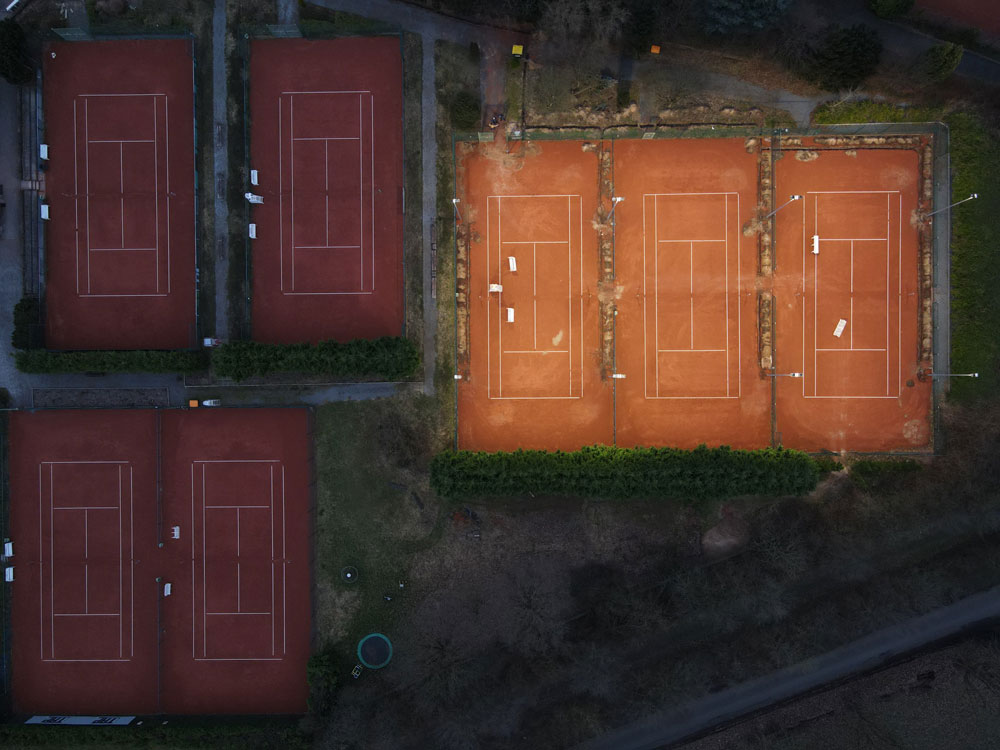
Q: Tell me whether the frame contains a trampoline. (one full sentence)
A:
Yes, a trampoline can be made out from above.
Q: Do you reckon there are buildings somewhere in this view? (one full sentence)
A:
No, no building can be seen from above.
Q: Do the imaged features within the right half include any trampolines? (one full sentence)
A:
No, I see no trampoline within the right half.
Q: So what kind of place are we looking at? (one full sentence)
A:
It's a sports ground.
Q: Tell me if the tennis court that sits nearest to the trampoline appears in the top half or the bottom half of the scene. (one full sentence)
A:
It is in the bottom half that the tennis court that sits nearest to the trampoline appears.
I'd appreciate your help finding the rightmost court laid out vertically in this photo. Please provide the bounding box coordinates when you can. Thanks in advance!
[776,150,920,452]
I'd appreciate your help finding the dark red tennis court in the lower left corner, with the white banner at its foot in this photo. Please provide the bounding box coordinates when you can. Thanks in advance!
[9,409,160,714]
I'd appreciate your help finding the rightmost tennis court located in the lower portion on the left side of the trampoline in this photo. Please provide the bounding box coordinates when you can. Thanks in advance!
[160,408,310,714]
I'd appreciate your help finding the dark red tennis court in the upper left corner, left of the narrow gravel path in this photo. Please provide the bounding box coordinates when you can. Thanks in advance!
[42,39,197,350]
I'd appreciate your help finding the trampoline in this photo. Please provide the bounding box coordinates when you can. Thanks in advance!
[356,634,392,669]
